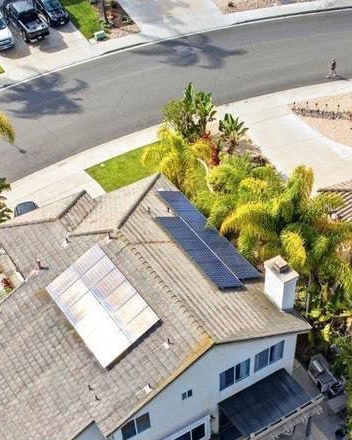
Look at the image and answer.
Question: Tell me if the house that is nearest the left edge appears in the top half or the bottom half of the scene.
bottom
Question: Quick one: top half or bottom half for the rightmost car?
top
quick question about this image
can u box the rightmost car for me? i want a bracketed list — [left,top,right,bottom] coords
[31,0,69,26]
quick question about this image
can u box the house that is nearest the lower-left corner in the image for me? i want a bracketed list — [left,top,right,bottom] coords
[0,172,314,440]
